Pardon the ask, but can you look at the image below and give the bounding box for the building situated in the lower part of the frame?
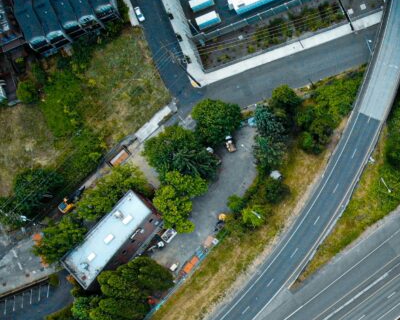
[59,189,164,293]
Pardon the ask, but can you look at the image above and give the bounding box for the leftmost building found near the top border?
[0,2,32,58]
